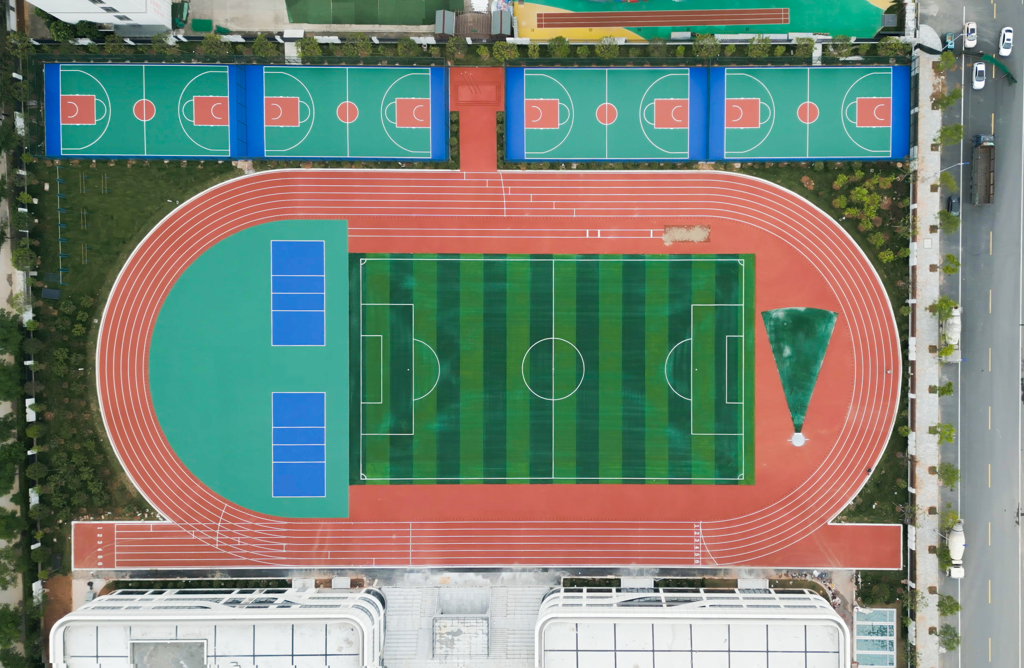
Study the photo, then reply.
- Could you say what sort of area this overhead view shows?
sports ground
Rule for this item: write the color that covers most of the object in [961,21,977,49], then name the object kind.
white car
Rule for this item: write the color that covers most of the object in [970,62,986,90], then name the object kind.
white car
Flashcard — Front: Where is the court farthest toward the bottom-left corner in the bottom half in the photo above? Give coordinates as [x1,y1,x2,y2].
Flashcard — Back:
[272,392,326,497]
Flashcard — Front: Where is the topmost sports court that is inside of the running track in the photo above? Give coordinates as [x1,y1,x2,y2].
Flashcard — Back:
[271,240,325,346]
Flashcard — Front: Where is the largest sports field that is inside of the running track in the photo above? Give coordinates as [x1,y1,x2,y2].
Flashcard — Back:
[348,253,755,485]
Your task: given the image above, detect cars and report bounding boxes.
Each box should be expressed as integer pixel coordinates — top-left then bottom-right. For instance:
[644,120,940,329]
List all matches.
[961,21,977,49]
[945,193,961,218]
[970,62,986,90]
[996,27,1013,57]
